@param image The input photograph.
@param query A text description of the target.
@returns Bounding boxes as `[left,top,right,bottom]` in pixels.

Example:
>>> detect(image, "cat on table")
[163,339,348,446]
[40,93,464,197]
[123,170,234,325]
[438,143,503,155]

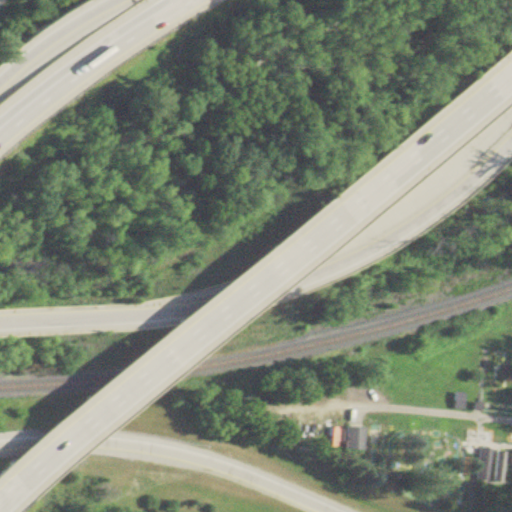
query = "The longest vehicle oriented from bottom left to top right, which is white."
[78,44,120,74]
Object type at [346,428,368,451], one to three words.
house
